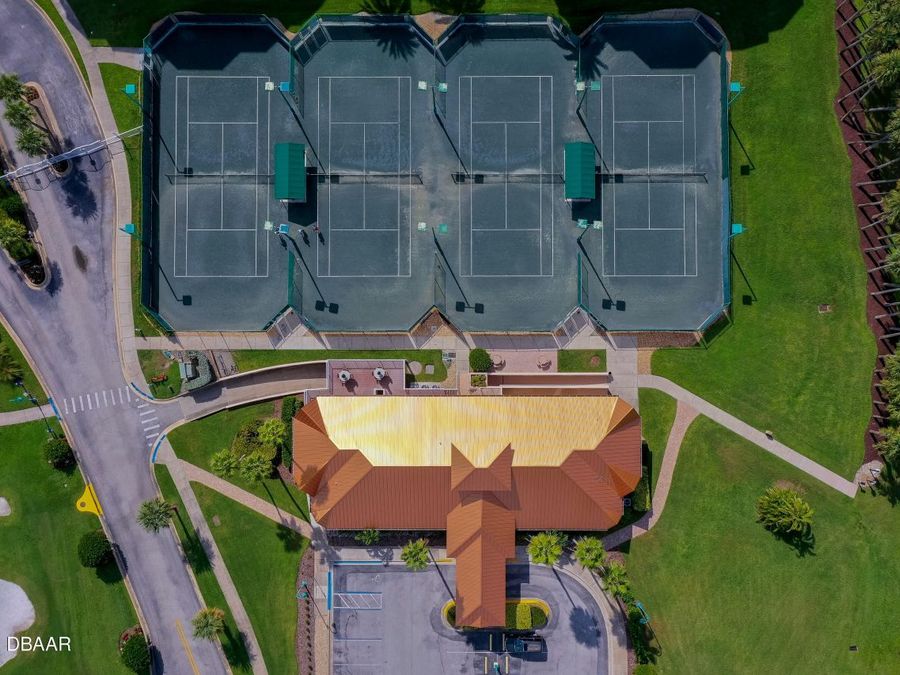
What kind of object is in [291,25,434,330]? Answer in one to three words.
tennis court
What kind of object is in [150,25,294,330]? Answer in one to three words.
tennis court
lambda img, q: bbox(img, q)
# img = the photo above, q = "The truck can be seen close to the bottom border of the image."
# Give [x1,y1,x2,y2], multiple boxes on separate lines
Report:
[503,636,549,659]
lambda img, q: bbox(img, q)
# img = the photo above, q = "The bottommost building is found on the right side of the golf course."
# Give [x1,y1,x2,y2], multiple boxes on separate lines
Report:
[292,396,642,628]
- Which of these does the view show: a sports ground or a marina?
sports ground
